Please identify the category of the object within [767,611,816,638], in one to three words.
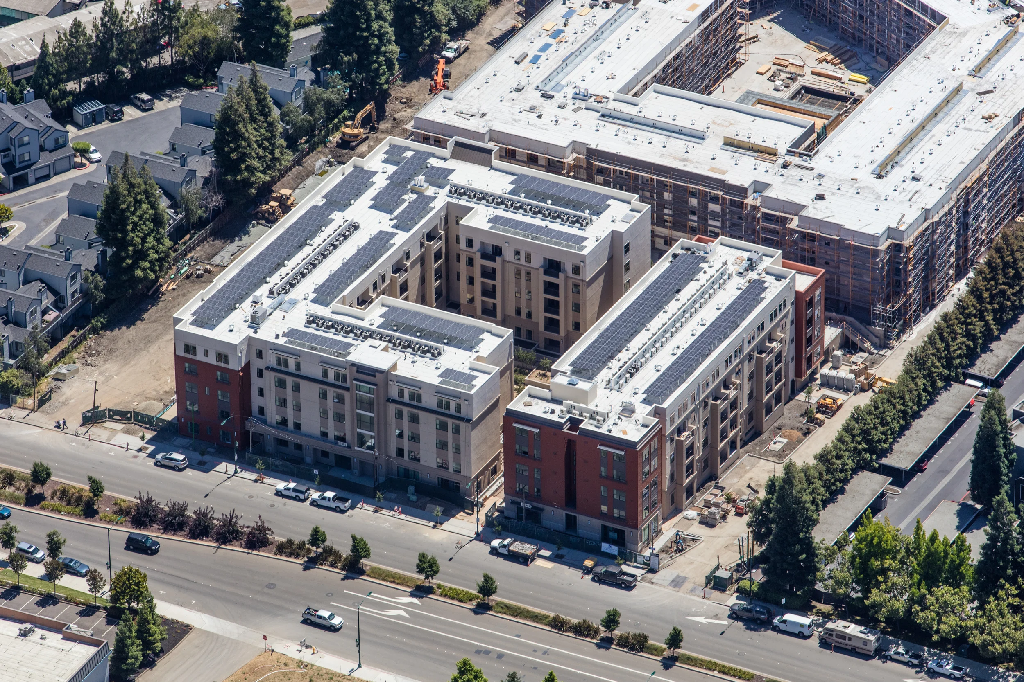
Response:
vehicle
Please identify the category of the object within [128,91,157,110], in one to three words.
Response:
car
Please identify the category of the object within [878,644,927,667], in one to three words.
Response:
truck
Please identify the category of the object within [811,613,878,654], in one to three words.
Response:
camper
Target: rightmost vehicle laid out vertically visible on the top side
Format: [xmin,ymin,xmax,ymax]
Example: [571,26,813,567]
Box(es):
[431,61,449,98]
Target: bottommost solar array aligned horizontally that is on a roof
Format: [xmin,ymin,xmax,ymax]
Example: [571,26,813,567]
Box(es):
[437,368,479,389]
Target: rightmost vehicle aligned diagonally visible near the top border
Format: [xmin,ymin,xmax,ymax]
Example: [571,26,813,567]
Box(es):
[440,23,473,61]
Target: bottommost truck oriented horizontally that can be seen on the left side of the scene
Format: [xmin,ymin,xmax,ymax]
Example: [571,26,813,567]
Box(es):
[299,607,348,632]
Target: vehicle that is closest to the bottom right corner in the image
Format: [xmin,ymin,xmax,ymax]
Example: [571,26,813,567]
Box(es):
[920,657,970,680]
